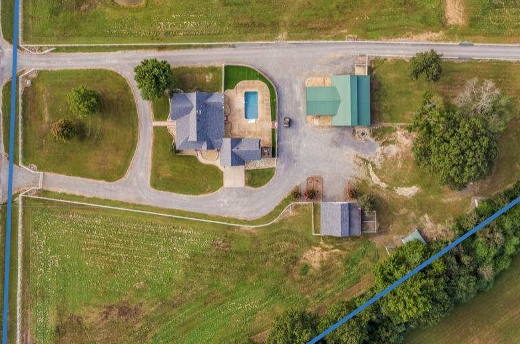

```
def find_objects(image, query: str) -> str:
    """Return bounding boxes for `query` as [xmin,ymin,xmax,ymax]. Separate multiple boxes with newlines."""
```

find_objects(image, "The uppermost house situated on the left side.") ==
[171,92,225,149]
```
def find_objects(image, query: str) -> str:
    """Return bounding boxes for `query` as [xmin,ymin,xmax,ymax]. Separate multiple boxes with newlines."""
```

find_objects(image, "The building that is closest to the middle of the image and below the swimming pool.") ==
[221,138,261,166]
